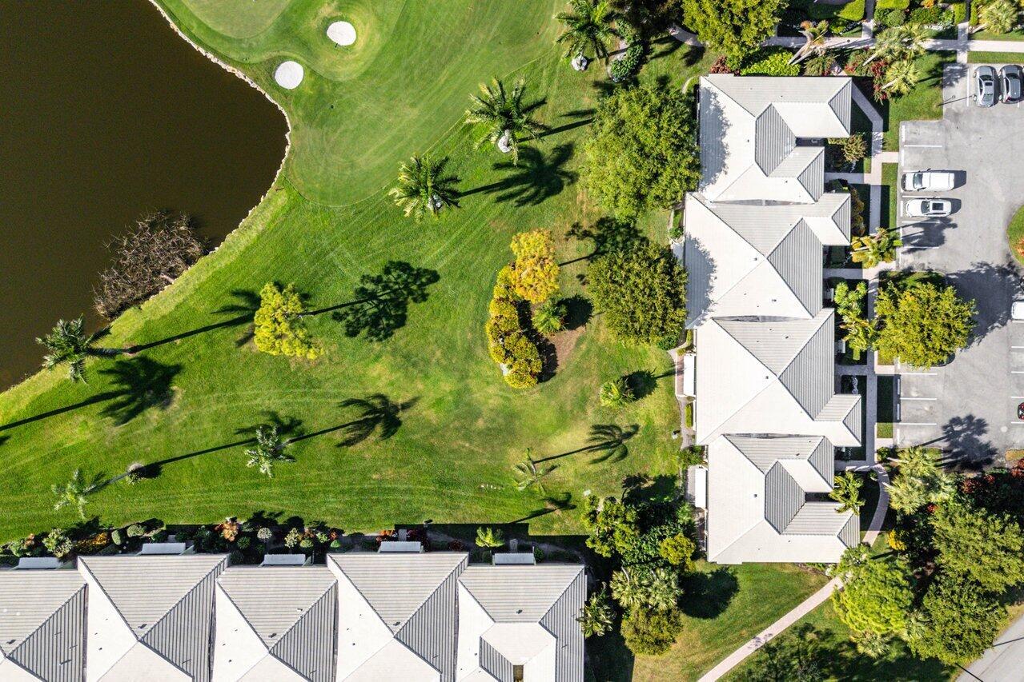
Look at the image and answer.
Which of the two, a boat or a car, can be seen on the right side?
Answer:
car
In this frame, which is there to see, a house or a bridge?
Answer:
house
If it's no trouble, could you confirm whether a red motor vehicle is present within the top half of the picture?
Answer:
No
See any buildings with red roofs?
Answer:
No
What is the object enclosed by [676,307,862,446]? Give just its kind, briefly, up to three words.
house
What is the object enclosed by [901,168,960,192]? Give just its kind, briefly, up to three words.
vehicle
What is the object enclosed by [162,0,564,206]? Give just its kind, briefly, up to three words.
golf course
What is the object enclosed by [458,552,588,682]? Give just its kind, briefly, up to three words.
house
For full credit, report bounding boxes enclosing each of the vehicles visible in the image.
[973,65,999,108]
[901,168,960,192]
[1010,301,1024,320]
[998,63,1024,105]
[1016,403,1024,421]
[905,196,954,218]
